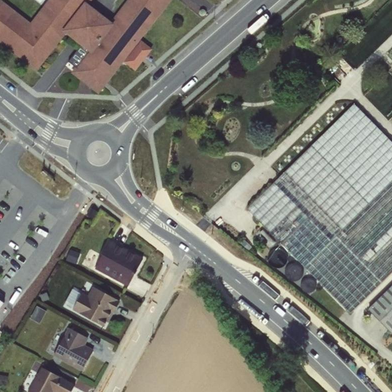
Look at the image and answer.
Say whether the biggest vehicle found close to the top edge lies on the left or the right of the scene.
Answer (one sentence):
It is on the right.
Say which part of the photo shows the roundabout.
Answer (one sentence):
The roundabout appears toward the left of the photo.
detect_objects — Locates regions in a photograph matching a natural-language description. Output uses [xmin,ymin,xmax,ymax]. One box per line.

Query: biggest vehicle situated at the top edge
[246,14,268,34]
